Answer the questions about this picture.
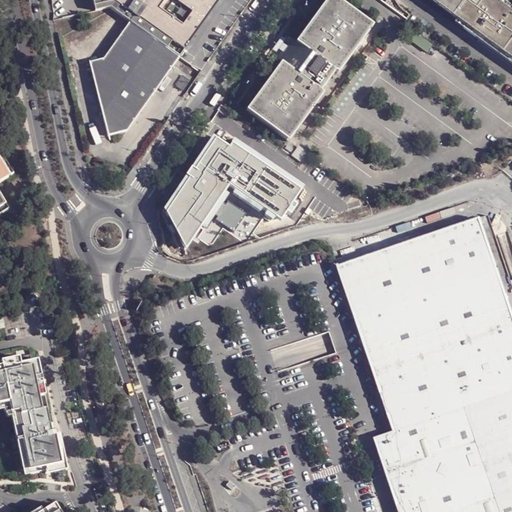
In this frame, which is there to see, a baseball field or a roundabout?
roundabout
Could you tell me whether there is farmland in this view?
No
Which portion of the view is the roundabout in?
left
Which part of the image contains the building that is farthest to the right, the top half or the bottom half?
top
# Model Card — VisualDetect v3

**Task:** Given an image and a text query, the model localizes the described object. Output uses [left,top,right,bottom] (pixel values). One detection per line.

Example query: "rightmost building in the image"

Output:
[428,0,512,64]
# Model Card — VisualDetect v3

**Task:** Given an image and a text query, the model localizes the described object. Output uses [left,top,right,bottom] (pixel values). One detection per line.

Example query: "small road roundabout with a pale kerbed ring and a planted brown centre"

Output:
[72,196,152,270]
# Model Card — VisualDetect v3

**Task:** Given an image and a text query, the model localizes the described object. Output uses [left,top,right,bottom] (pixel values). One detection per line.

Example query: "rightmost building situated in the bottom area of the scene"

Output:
[336,216,512,512]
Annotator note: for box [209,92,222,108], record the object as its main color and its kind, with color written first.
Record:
white vehicle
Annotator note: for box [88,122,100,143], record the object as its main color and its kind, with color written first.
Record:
white vehicle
